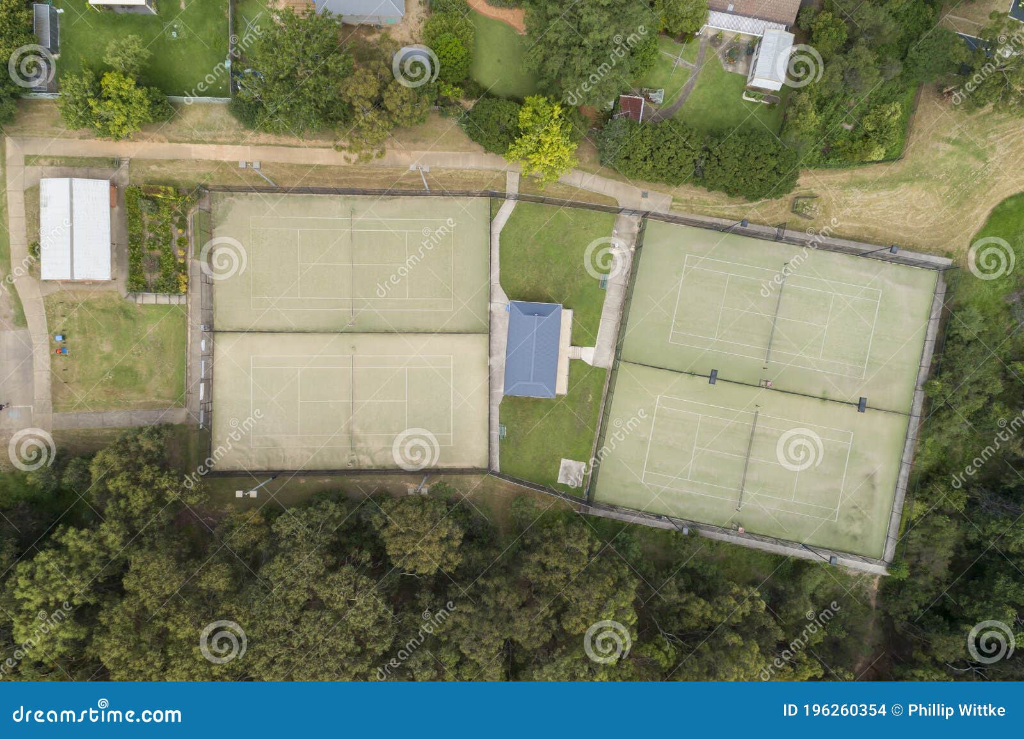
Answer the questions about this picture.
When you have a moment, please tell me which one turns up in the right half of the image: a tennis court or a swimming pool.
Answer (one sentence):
You can see a tennis court in the right half of the image.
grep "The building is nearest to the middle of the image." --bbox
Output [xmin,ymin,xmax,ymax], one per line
[503,300,584,399]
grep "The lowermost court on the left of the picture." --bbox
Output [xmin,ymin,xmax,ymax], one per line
[211,331,490,472]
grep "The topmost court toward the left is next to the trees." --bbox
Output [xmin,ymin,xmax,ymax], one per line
[212,194,490,333]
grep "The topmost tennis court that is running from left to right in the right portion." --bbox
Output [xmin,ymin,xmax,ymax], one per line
[615,218,939,414]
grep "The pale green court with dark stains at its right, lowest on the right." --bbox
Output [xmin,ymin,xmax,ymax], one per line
[590,360,911,559]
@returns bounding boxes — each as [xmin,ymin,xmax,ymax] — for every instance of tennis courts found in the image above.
[590,360,911,559]
[615,218,939,414]
[212,194,490,333]
[211,331,490,472]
